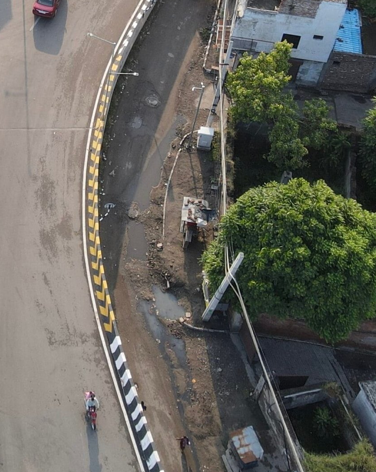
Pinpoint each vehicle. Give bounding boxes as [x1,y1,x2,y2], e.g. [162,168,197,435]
[30,0,59,20]
[87,399,104,430]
